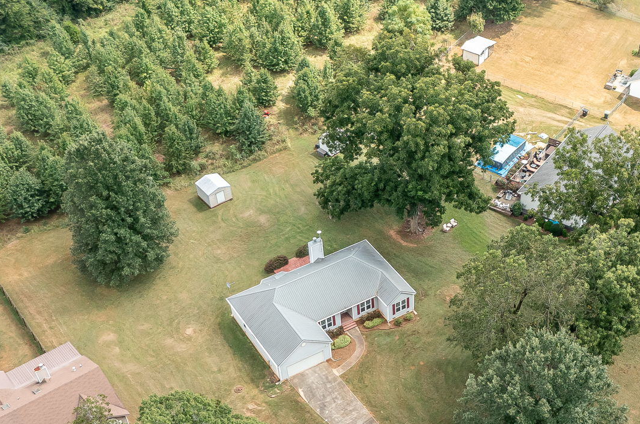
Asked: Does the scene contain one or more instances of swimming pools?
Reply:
Yes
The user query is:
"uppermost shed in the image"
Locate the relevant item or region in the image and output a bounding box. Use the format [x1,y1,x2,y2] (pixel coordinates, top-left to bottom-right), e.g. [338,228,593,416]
[467,36,498,64]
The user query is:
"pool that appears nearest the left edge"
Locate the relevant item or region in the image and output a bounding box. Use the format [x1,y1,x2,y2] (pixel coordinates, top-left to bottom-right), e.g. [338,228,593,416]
[484,133,530,170]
